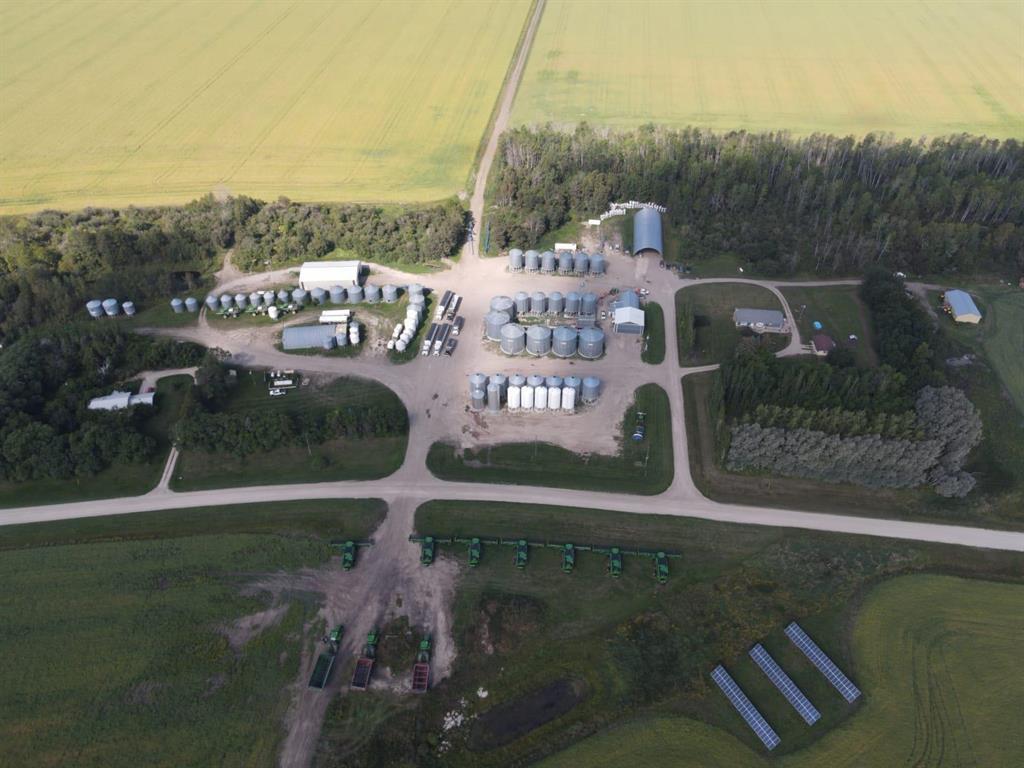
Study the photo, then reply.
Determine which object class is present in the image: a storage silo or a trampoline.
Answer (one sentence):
The one in the frame is a storage silo.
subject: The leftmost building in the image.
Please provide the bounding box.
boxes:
[87,382,161,413]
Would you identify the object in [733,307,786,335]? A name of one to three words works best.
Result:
house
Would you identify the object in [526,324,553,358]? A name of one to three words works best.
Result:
silo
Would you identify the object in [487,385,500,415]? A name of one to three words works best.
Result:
silo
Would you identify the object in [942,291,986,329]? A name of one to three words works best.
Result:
shed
